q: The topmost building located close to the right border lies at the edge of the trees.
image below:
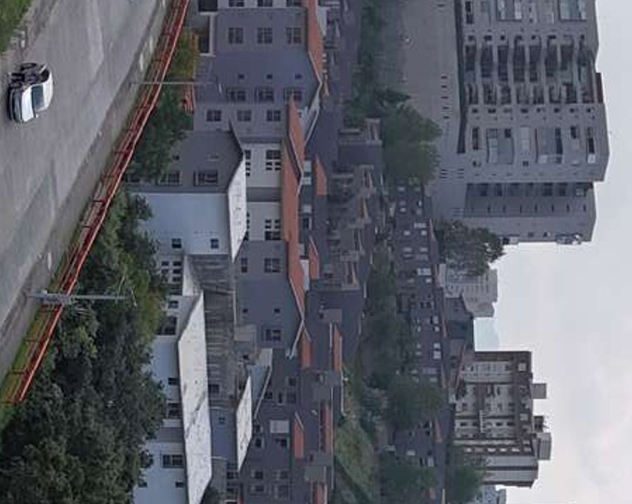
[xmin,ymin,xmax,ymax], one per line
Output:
[432,0,611,246]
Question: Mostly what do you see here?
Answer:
buildings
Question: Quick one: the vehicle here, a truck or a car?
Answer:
car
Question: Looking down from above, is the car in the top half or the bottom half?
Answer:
top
